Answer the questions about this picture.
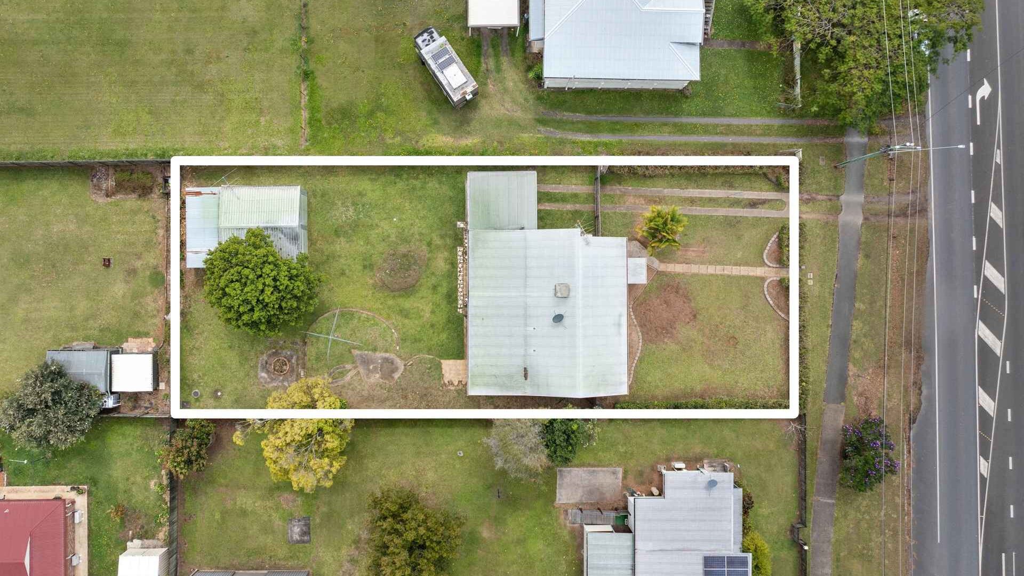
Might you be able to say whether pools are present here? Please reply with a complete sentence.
No, the photo shows no pool.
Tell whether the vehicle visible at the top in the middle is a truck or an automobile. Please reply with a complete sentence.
In the photo, the vehicle visible at the top in the middle shows up as a truck.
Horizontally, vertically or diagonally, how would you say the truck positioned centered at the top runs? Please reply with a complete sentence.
The truck positioned centered at the top is laid out diagonally.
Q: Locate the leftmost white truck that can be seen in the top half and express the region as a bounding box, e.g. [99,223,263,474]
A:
[413,26,481,111]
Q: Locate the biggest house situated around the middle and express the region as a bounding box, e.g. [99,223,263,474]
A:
[466,228,630,398]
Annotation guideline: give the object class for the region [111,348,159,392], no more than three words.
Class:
shed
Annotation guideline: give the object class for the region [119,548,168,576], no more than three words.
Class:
shed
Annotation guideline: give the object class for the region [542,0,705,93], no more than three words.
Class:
house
